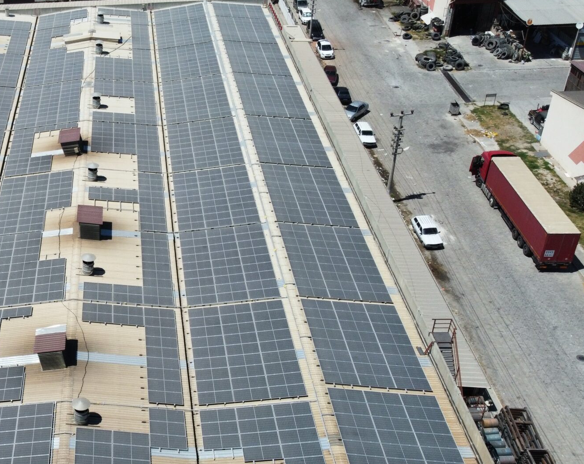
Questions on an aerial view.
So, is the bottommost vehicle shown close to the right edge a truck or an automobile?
truck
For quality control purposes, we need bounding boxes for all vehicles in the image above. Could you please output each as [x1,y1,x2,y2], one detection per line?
[467,150,581,270]
[520,103,550,122]
[323,64,341,82]
[357,120,378,147]
[317,38,336,56]
[333,83,354,102]
[347,97,375,118]
[305,18,325,39]
[413,212,445,247]
[294,0,312,10]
